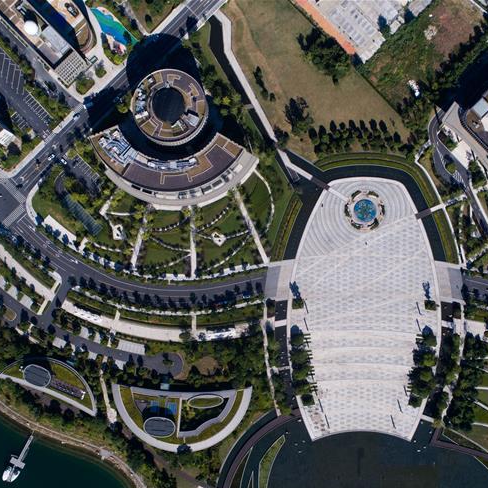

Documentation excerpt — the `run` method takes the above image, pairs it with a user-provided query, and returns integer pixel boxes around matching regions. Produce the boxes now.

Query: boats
[2,467,11,481]
[12,469,21,480]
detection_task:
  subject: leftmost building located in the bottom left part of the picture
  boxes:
[0,356,99,416]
